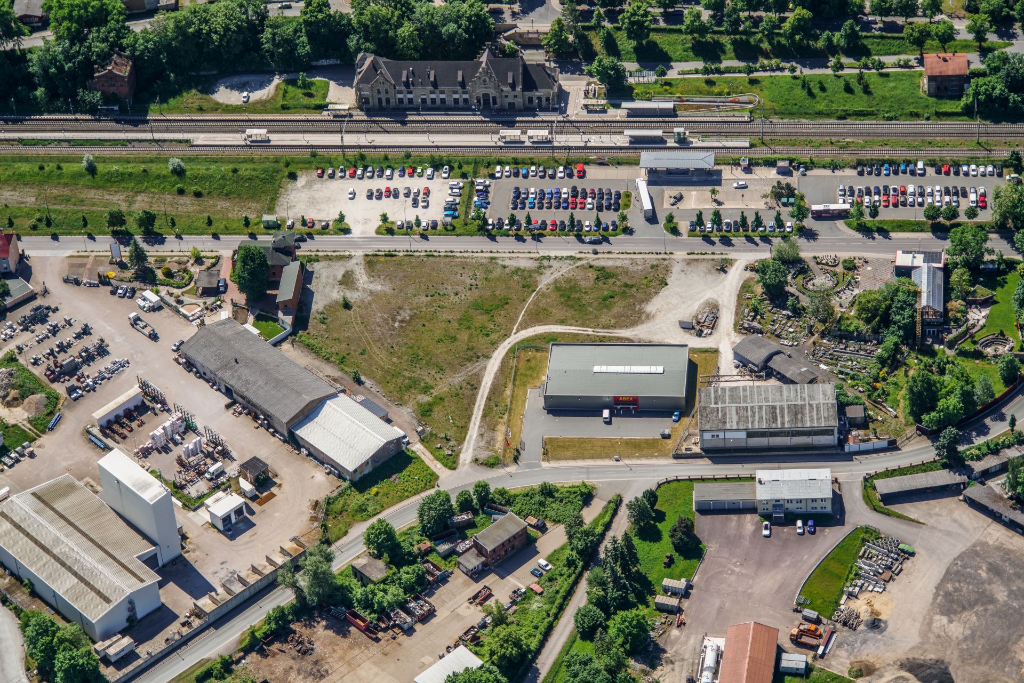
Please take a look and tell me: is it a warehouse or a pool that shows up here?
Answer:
warehouse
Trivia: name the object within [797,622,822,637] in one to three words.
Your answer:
vehicle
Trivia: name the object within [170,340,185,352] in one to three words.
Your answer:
vehicle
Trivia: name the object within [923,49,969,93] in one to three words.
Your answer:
house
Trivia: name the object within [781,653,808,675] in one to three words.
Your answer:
shed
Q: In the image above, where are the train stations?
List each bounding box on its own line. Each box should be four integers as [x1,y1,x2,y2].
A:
[351,39,558,110]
